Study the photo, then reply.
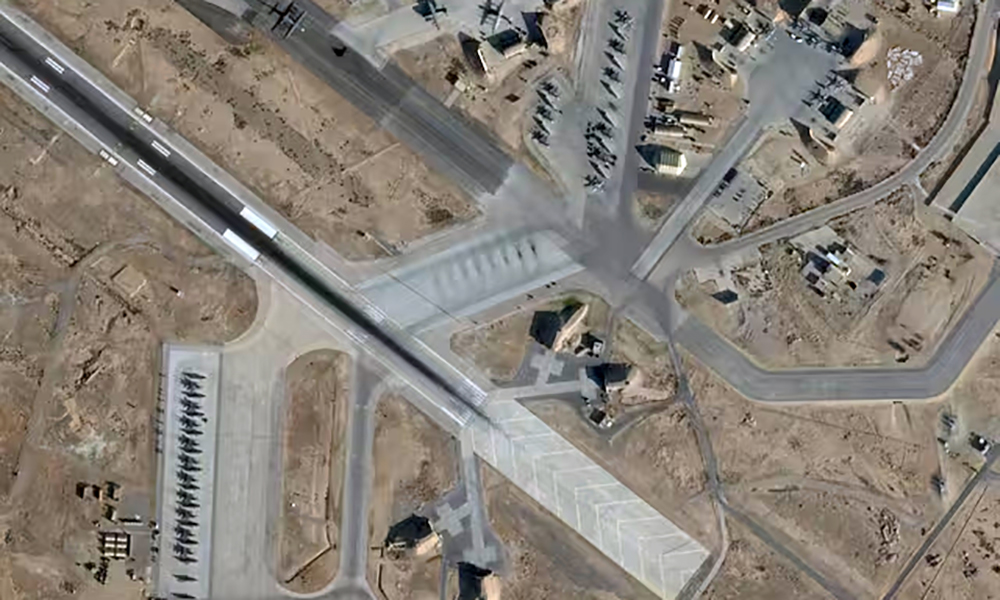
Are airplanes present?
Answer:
Yes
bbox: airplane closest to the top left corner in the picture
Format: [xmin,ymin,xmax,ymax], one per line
[283,11,307,37]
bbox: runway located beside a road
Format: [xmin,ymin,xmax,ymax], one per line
[0,0,709,600]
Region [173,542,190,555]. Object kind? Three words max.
airplane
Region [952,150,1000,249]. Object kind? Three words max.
building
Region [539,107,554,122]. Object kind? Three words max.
airplane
